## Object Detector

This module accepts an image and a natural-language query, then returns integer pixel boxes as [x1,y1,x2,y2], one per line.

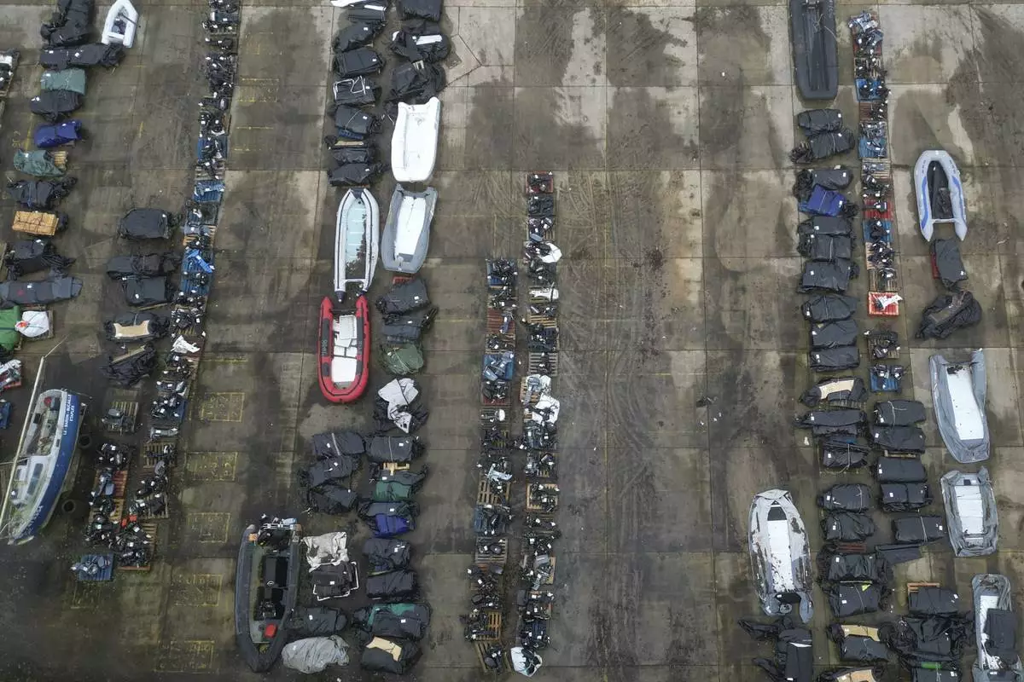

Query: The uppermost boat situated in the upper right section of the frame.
[790,0,838,99]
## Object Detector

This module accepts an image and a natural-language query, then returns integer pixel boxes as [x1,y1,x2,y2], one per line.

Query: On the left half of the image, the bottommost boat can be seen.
[361,638,426,678]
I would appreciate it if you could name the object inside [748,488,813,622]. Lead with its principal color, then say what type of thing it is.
white boat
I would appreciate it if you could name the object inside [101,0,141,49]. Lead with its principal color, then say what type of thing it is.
white boat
